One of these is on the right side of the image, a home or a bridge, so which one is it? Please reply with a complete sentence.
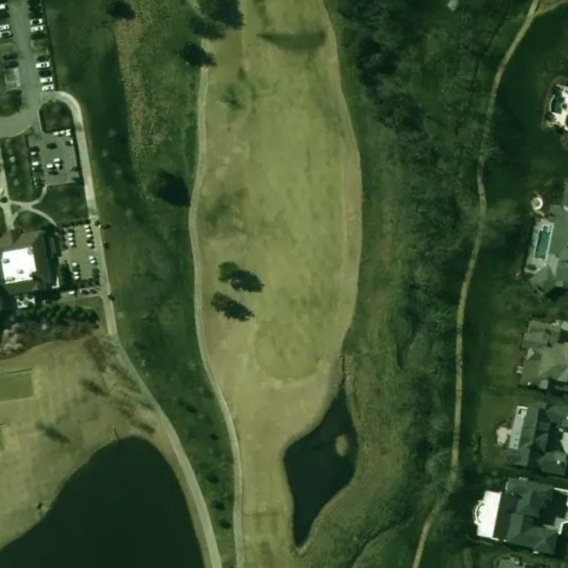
You can see a home on the right side of the image.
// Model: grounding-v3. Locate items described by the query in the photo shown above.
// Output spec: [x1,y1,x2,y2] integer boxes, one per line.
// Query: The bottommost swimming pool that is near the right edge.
[535,226,551,259]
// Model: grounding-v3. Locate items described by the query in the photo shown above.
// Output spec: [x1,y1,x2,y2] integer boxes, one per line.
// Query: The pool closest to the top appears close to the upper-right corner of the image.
[550,87,567,113]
